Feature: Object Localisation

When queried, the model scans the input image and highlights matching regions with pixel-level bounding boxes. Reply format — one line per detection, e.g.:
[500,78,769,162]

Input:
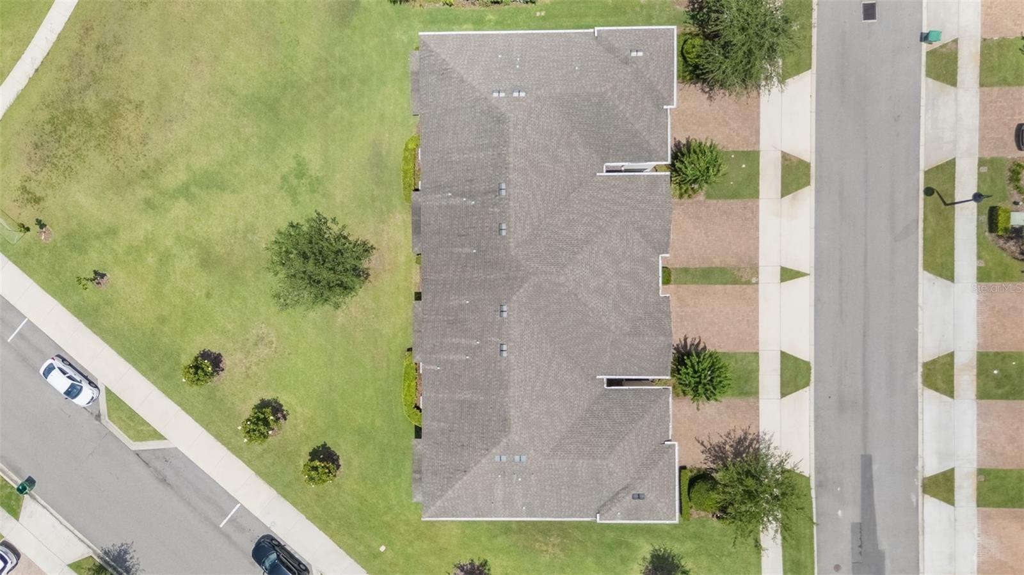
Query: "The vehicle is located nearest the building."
[252,534,313,575]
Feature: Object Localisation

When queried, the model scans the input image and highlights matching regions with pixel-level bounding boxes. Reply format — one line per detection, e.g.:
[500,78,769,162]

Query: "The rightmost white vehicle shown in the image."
[38,354,102,408]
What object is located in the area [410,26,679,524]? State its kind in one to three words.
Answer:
building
